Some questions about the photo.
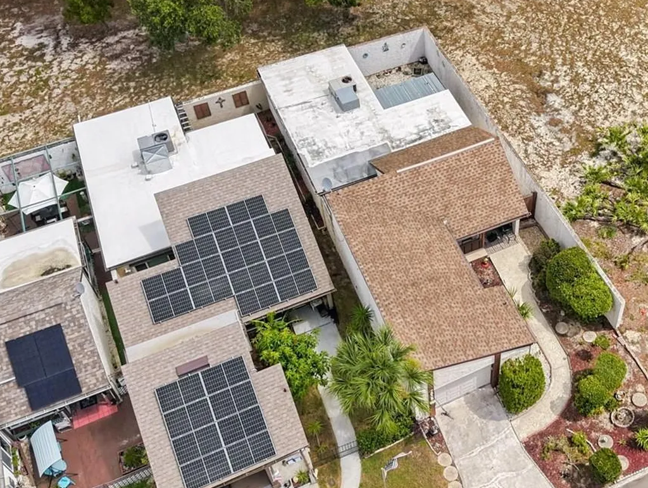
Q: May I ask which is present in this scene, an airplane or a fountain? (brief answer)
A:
fountain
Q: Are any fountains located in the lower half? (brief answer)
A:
Yes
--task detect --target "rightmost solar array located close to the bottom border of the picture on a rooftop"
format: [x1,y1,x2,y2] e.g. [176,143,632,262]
[160,357,281,488]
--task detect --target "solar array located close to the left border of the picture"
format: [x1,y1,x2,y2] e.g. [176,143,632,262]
[6,315,90,412]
